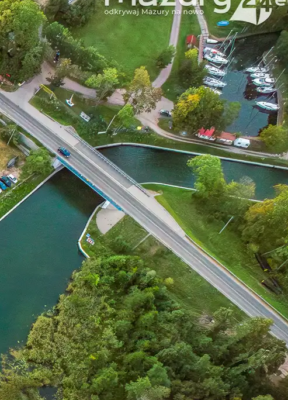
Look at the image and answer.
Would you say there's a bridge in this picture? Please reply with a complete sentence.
Yes, a bridge is visible in the scene.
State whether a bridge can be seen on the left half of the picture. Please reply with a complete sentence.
Yes, I can see a bridge on the left half of the picture.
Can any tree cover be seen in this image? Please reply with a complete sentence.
Yes, there is tree cover in the image.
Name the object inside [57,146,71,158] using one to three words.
vehicle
